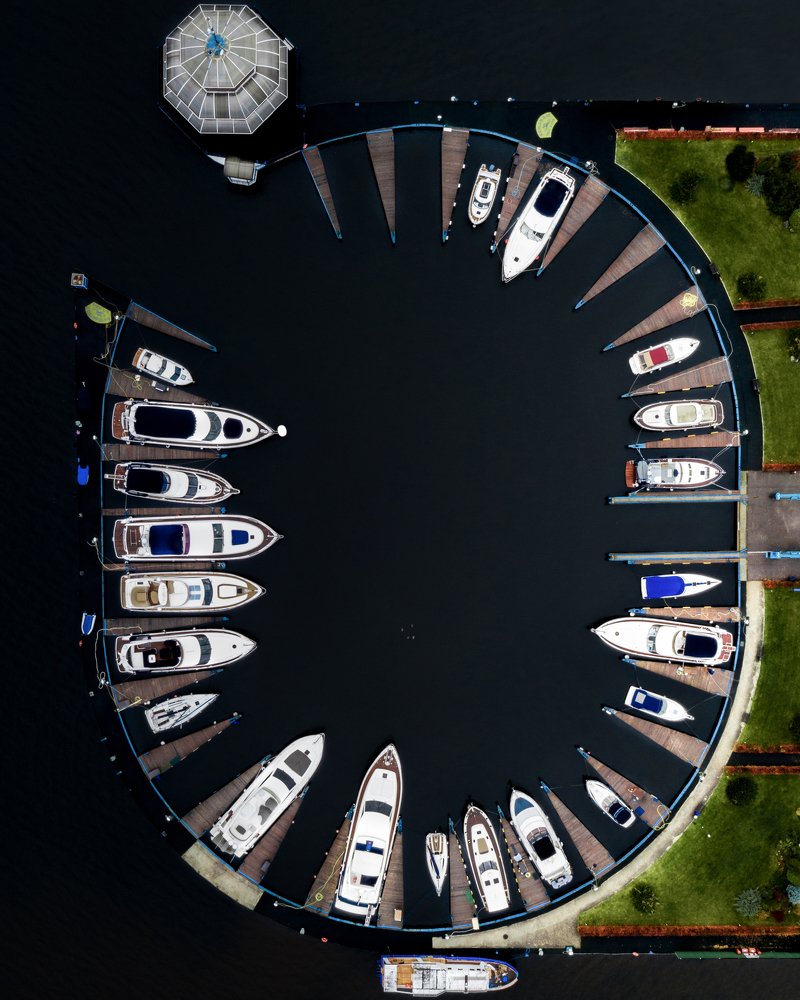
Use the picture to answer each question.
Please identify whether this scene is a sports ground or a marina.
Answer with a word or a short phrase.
marina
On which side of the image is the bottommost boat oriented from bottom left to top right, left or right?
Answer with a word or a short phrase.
left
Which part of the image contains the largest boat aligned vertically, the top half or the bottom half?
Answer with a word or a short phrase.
bottom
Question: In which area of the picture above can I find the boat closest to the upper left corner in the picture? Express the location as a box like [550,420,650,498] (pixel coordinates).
[133,349,193,387]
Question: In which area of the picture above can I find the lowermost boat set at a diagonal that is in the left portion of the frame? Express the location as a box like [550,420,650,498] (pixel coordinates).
[212,733,324,862]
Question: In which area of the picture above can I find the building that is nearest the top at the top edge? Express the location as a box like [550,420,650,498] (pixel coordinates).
[163,6,295,138]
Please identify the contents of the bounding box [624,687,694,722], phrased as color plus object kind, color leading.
white boat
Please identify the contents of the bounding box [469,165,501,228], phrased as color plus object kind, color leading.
white boat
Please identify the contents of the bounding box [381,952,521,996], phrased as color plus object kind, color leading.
white vessel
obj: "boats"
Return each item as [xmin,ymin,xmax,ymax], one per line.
[592,617,736,668]
[465,805,510,912]
[426,831,449,898]
[112,515,281,562]
[503,167,574,283]
[639,570,724,599]
[469,165,501,228]
[624,687,694,722]
[212,733,324,862]
[336,741,401,926]
[630,338,702,374]
[105,463,235,503]
[587,781,636,827]
[625,455,728,490]
[511,788,572,888]
[112,397,276,451]
[120,569,268,613]
[133,349,193,387]
[115,626,259,673]
[632,397,724,433]
[146,694,219,733]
